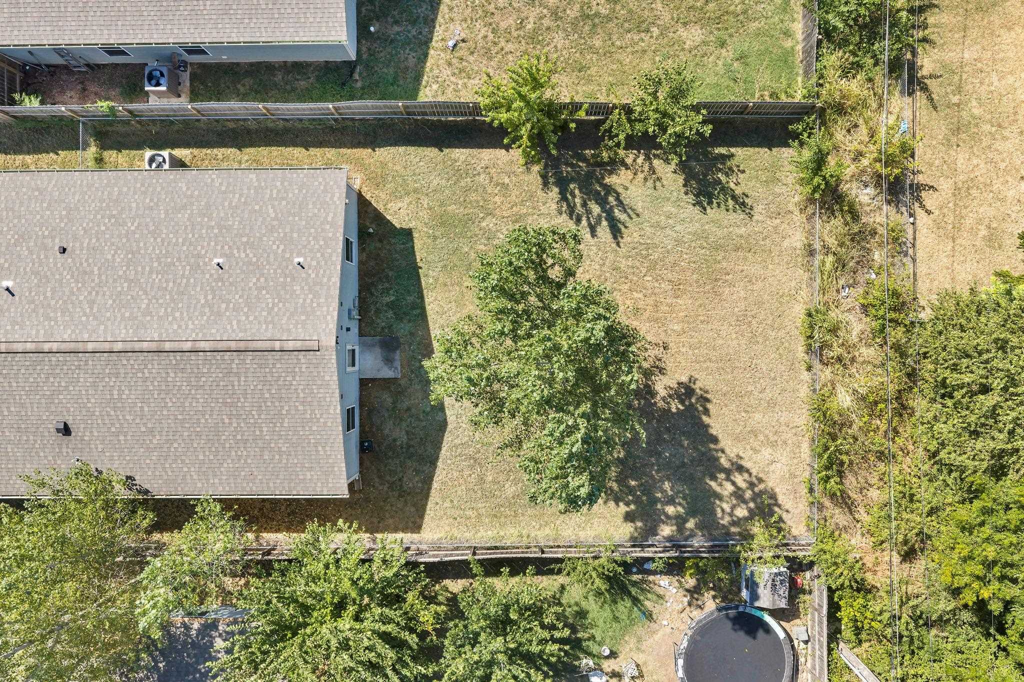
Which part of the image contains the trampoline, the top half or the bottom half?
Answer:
bottom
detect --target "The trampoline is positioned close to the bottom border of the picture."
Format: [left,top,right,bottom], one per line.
[672,597,803,682]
